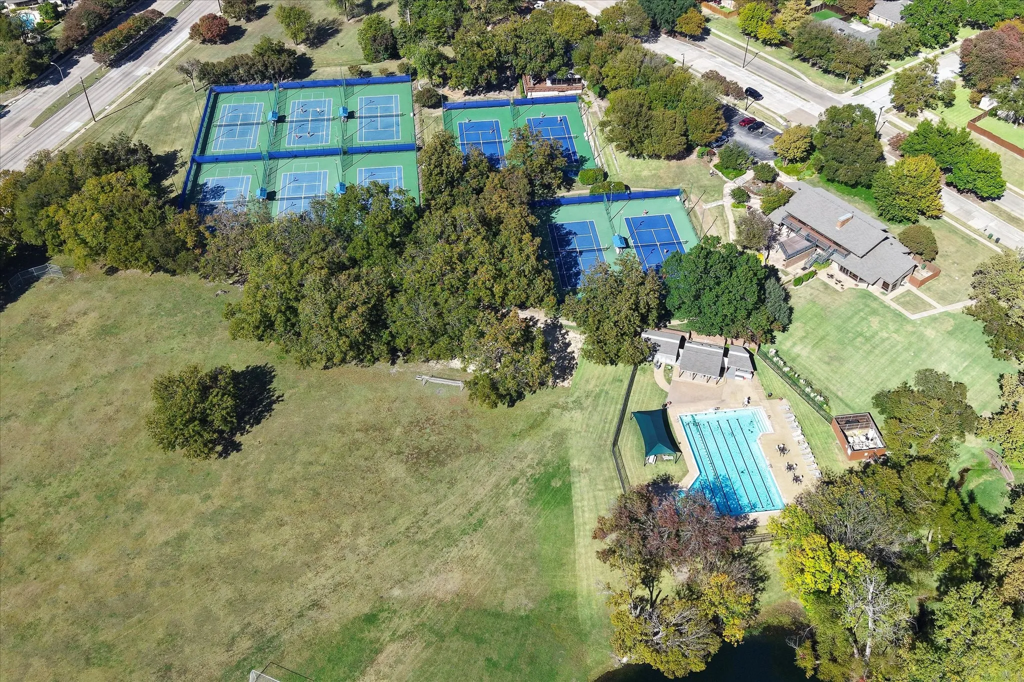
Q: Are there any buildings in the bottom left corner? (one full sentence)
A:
No, I see no building in the bottom left corner.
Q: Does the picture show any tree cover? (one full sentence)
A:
Yes, some tree cover is visible.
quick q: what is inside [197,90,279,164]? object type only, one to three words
tennis court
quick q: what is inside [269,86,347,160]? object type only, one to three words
tennis court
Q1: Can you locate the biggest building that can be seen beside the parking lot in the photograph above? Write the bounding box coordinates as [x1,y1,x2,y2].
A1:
[767,182,917,293]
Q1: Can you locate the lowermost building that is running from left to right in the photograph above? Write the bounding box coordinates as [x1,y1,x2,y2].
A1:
[644,330,756,385]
